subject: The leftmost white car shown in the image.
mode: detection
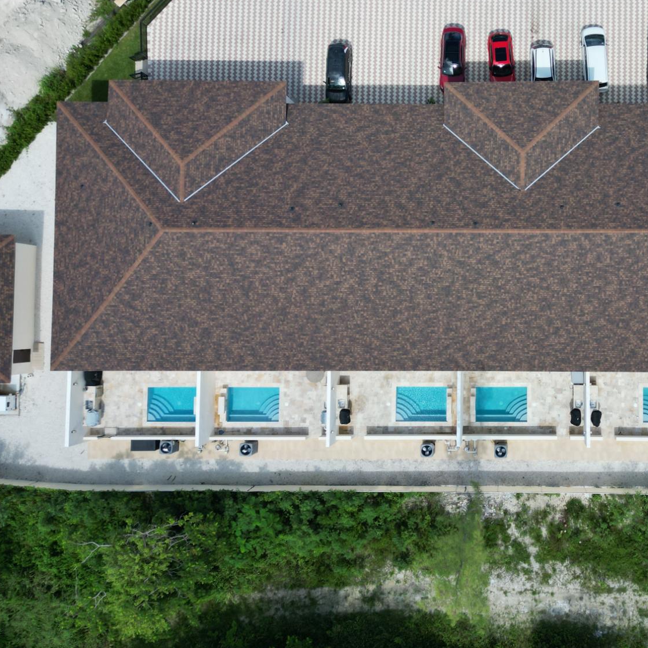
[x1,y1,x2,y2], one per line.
[529,42,559,82]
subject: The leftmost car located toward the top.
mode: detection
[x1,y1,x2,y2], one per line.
[323,41,355,101]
